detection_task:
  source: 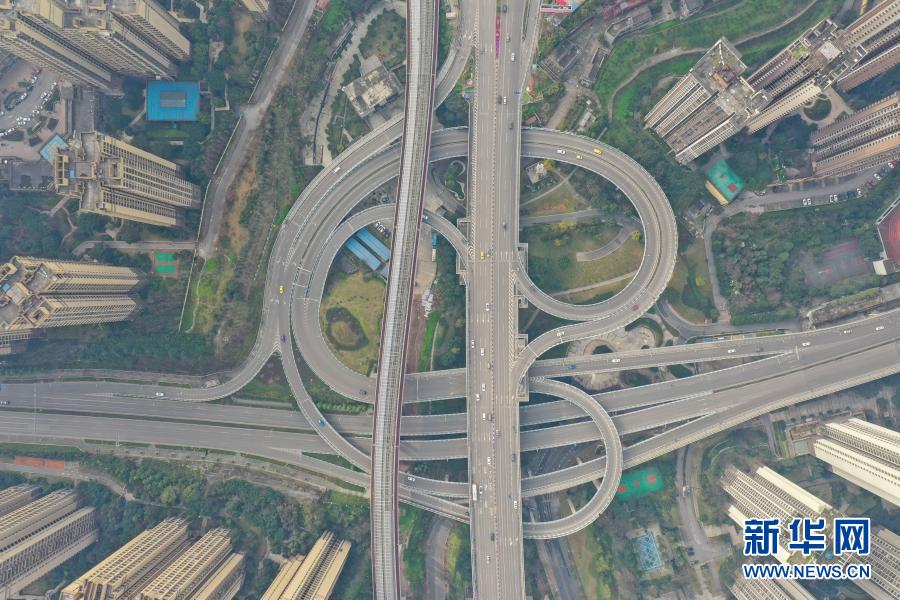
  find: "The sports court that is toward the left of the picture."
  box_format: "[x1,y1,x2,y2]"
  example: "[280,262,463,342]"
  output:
[152,250,178,277]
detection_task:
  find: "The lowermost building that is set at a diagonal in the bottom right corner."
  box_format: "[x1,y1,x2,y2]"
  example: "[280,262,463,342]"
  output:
[722,466,860,582]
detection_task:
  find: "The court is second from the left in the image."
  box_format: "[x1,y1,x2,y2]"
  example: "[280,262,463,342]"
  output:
[616,466,665,502]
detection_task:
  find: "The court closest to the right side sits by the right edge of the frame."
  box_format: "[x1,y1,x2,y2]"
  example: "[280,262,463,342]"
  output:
[806,240,866,284]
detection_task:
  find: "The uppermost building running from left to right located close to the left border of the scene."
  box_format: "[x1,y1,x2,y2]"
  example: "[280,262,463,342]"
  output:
[0,0,190,90]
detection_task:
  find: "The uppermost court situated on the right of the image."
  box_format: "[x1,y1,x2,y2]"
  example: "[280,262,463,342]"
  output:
[702,158,744,205]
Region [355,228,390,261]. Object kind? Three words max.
shed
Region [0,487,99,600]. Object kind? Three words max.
building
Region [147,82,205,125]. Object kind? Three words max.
building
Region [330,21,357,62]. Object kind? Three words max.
shed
